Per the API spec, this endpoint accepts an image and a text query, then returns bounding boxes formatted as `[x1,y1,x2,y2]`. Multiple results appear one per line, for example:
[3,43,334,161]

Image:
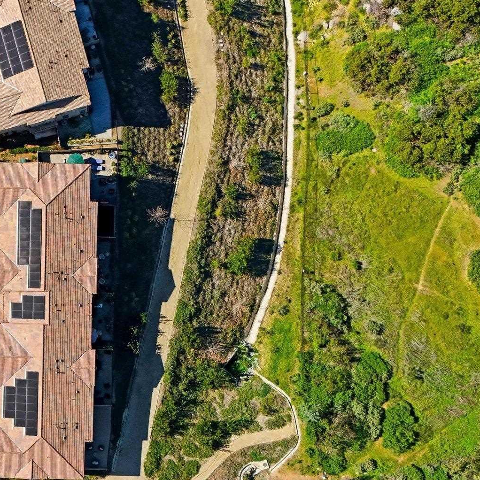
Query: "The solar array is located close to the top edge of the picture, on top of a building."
[0,23,34,78]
